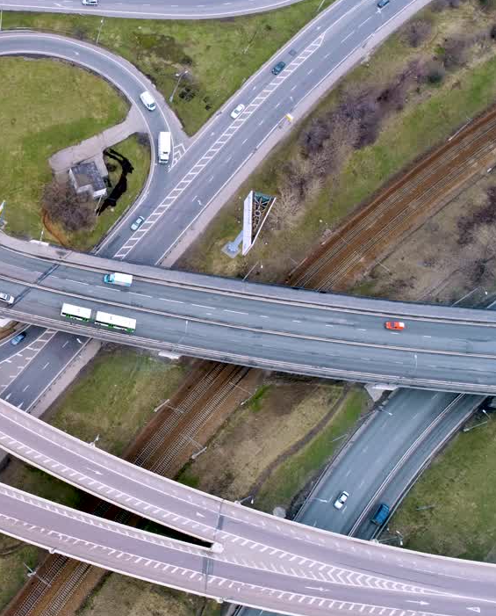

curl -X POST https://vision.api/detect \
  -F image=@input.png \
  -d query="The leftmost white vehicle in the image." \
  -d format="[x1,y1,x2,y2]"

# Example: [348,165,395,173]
[0,292,15,304]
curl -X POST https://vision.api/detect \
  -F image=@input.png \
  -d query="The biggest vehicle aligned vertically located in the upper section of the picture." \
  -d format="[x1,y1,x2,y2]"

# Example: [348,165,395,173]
[157,132,170,163]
